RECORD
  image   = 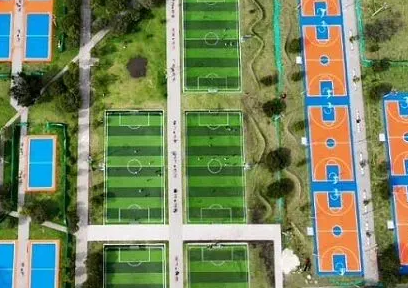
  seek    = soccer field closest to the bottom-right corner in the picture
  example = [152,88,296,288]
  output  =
[188,243,250,288]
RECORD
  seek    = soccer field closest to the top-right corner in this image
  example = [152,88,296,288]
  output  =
[183,0,241,92]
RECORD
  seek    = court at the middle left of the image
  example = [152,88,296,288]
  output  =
[23,135,59,191]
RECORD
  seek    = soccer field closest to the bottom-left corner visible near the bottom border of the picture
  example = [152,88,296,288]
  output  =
[105,244,165,288]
